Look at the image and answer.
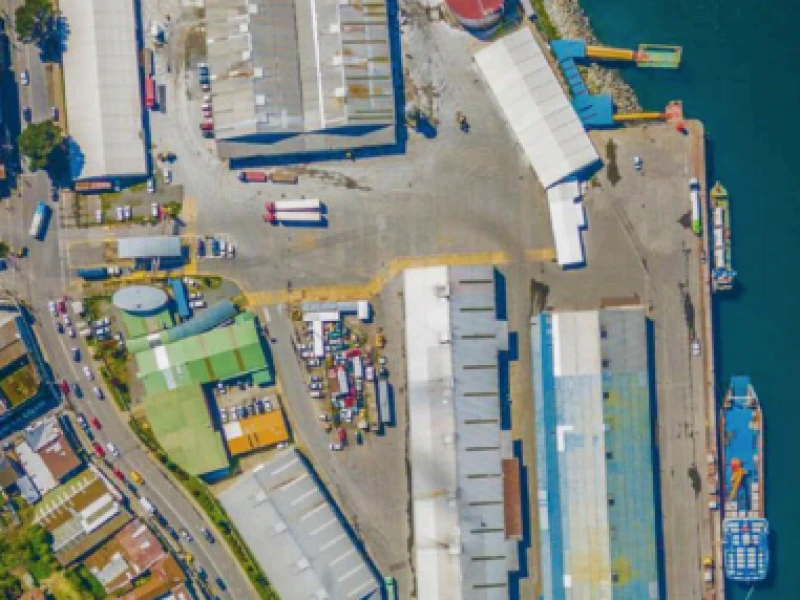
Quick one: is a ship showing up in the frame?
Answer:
Yes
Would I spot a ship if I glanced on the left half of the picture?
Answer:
No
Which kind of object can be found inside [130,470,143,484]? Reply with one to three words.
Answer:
vehicle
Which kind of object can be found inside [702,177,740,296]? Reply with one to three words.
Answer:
ship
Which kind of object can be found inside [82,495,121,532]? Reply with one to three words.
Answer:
shed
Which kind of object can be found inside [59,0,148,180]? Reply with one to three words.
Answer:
building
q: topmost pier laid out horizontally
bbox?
[630,44,683,70]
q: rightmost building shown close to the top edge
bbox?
[473,27,602,188]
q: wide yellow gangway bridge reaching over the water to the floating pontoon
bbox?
[586,43,634,59]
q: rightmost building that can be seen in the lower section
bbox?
[530,306,660,600]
